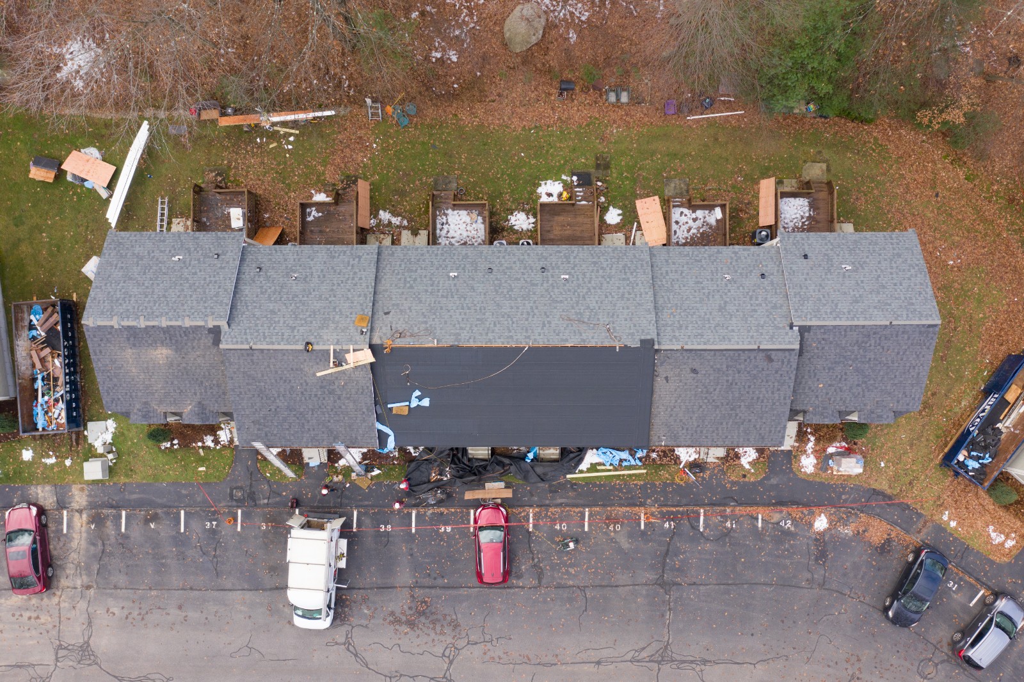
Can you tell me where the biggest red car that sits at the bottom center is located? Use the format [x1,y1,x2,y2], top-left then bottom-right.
[471,500,513,584]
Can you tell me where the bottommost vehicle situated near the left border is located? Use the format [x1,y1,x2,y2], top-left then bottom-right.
[2,503,53,595]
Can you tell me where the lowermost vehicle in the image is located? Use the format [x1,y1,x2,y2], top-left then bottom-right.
[946,588,1023,674]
